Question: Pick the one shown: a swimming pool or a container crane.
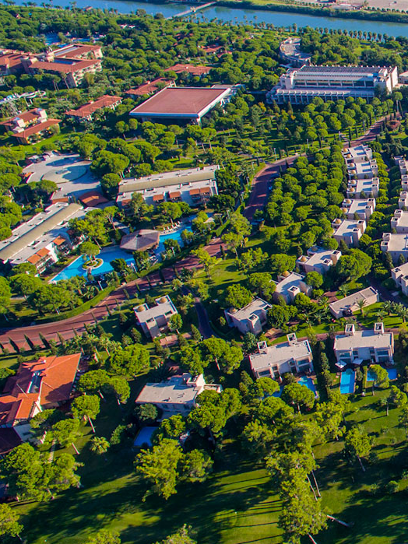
swimming pool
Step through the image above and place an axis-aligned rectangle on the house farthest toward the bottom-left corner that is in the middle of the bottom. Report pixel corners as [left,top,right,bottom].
[135,383,197,418]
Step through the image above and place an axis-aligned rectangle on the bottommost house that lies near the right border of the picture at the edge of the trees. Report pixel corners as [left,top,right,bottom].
[332,325,395,364]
